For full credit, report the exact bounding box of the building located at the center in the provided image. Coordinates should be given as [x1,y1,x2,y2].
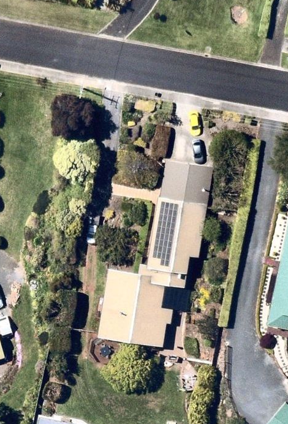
[98,160,212,347]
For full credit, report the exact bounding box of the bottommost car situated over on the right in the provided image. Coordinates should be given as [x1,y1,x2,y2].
[192,138,205,164]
